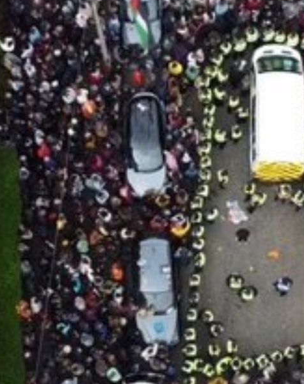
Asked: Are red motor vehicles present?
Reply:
No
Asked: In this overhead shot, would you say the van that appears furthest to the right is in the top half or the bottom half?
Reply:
top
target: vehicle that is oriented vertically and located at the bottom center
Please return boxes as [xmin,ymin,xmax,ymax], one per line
[133,237,184,346]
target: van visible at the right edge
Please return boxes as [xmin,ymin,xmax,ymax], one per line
[247,46,304,184]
